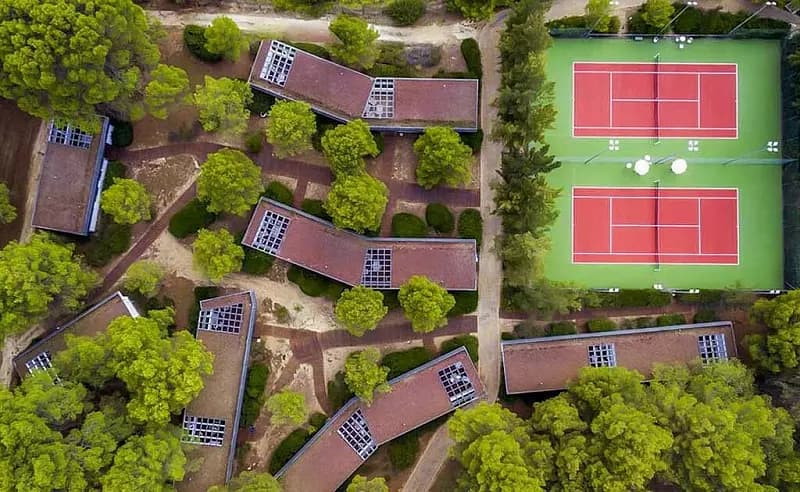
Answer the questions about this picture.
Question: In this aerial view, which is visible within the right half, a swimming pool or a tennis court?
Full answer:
There is a tennis court within the right half.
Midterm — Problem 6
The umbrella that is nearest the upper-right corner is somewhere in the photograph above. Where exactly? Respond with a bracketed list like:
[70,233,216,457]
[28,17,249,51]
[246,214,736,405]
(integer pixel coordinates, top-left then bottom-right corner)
[669,159,686,173]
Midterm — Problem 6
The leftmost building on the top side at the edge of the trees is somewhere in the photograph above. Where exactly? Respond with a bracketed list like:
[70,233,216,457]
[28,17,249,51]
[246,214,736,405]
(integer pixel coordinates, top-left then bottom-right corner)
[31,105,111,236]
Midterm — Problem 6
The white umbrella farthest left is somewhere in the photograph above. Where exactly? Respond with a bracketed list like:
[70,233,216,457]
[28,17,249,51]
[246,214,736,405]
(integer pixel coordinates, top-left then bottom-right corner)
[633,159,648,174]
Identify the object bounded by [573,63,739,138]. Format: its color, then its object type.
red tennis court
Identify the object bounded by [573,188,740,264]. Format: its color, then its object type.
red tennis court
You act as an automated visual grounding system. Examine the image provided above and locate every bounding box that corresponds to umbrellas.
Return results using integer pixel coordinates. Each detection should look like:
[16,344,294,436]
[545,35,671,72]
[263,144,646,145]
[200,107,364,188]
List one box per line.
[633,159,648,174]
[669,159,686,173]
